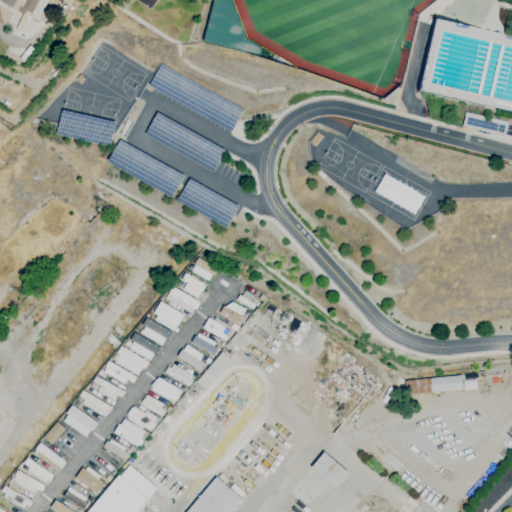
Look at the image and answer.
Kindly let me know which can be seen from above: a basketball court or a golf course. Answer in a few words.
basketball court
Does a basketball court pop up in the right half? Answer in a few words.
Yes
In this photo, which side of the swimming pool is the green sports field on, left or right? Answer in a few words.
to its left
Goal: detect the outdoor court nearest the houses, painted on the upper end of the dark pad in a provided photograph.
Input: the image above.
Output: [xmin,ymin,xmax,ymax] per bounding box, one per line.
[86,46,149,102]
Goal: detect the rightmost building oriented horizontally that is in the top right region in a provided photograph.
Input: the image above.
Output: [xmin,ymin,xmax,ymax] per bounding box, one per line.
[464,112,511,137]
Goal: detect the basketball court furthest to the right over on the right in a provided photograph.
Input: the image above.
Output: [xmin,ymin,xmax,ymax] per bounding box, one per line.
[371,166,432,219]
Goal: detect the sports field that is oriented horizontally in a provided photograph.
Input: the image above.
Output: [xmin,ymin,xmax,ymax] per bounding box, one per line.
[203,0,438,98]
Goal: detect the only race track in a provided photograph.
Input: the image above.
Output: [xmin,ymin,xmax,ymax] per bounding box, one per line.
[160,362,272,480]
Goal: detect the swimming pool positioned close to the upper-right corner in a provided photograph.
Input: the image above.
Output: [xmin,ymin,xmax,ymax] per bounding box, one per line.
[420,15,512,112]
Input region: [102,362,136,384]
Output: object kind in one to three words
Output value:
house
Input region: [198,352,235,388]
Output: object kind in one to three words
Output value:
shed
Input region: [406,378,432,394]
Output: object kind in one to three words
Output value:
building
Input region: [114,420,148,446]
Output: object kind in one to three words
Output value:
house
